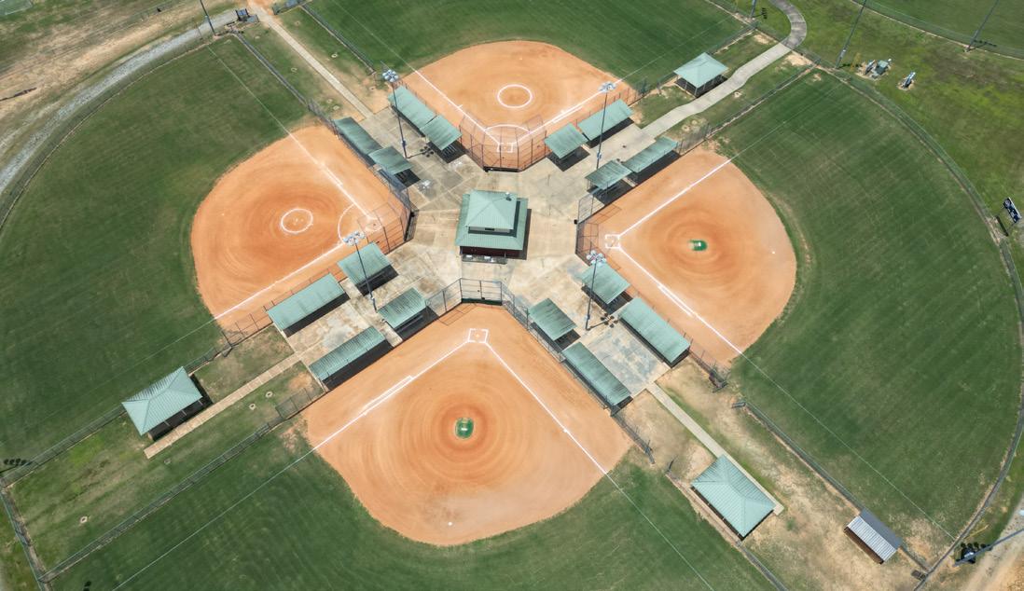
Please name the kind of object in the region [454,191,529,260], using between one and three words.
building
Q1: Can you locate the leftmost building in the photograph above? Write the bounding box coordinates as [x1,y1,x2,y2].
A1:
[122,366,206,440]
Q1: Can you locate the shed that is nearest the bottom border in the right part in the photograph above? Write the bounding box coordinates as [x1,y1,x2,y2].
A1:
[840,507,903,564]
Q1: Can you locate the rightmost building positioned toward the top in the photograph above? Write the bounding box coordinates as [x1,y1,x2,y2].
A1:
[673,53,729,97]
